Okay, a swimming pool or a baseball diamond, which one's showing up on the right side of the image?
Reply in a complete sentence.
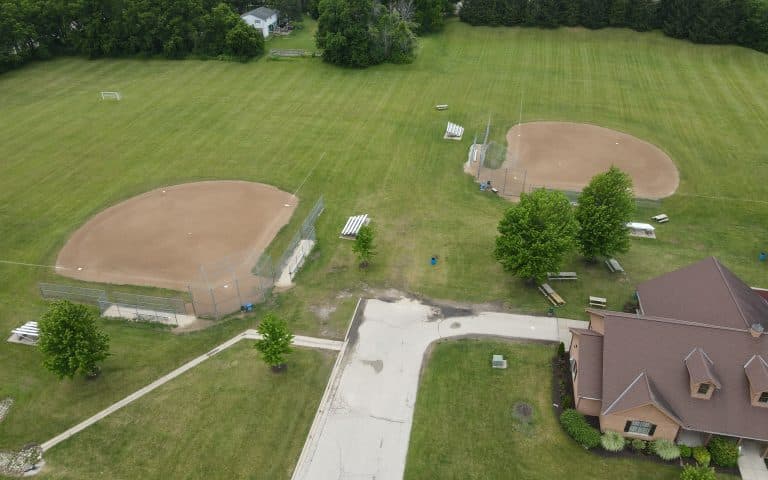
Looking on the right side of the image, you will find a baseball diamond.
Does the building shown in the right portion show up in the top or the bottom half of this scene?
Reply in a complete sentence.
You can find the building shown in the right portion in the bottom half.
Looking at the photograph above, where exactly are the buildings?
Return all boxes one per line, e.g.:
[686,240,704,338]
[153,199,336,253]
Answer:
[242,5,280,42]
[568,256,768,460]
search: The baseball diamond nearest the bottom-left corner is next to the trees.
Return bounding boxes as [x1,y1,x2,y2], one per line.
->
[1,153,326,329]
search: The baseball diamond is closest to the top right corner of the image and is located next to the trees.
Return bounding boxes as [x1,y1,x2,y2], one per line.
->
[464,88,767,203]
